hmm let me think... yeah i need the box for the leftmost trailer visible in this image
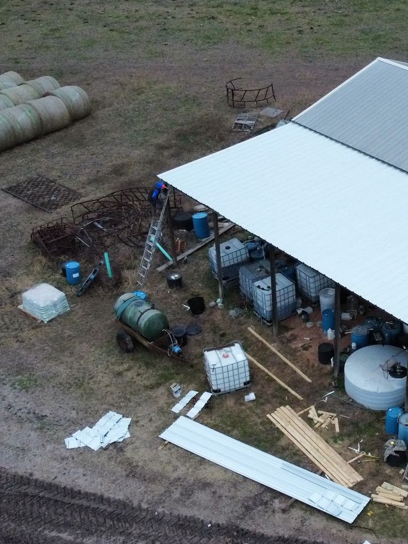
[108,318,194,364]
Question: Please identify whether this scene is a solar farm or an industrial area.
industrial area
